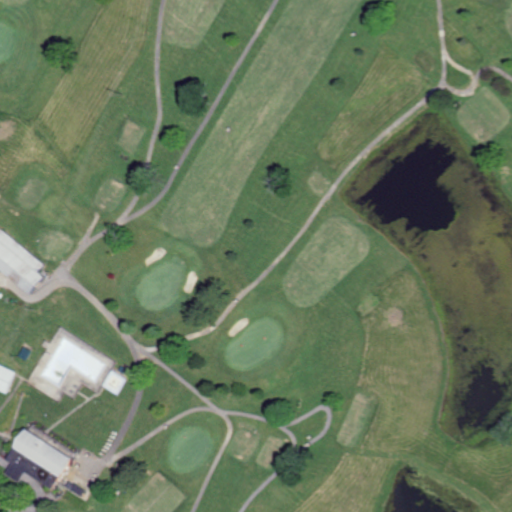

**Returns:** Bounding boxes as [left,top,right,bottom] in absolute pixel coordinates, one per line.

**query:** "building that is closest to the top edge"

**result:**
[0,230,42,294]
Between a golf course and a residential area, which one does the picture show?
golf course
